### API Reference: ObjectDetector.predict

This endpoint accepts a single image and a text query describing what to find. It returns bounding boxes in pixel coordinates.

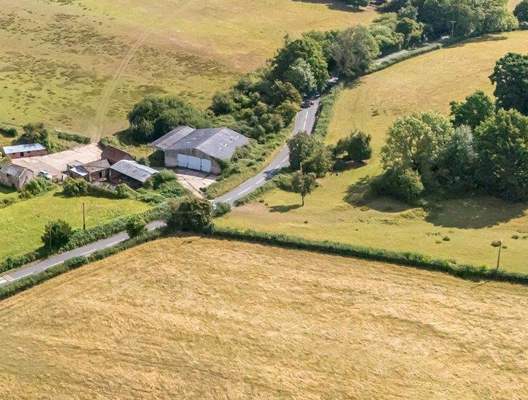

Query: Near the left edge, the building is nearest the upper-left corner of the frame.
[2,138,50,160]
